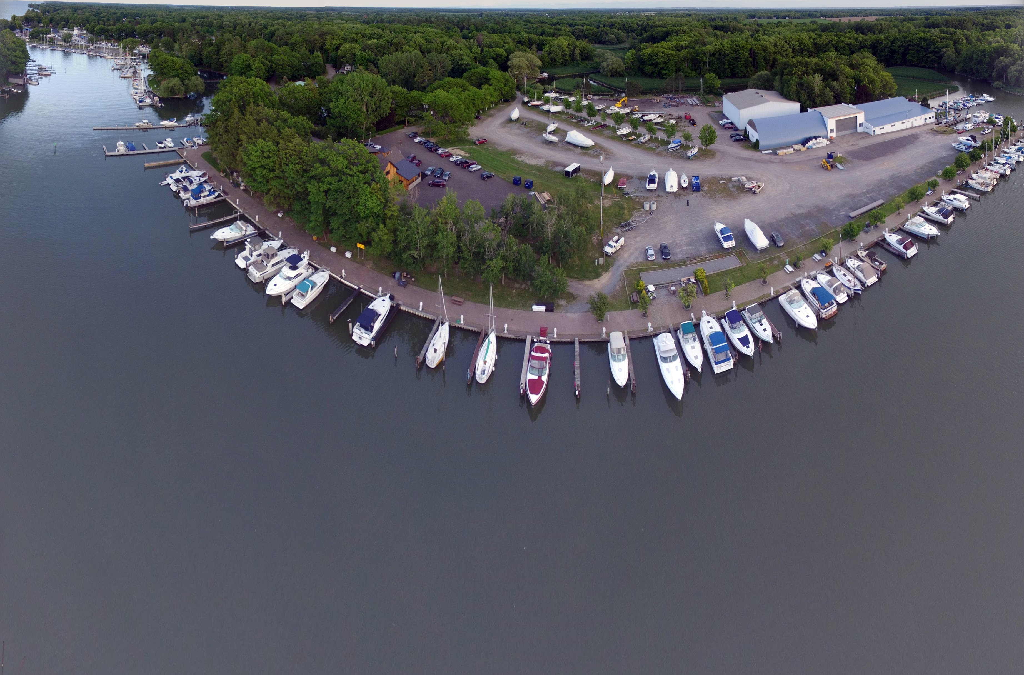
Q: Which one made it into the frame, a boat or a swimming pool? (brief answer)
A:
boat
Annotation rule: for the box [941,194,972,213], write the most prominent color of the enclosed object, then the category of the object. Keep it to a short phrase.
white boat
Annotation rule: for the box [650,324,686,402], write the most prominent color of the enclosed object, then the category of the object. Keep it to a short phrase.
white boat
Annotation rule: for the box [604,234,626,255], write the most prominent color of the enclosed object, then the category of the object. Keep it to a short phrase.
white truck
